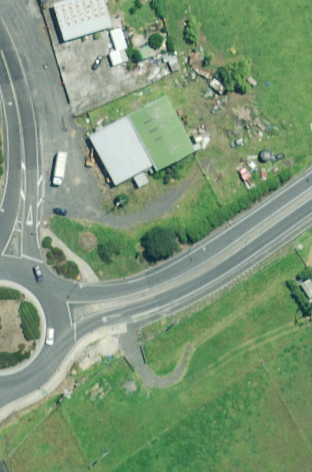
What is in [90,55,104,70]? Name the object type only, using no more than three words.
vehicle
